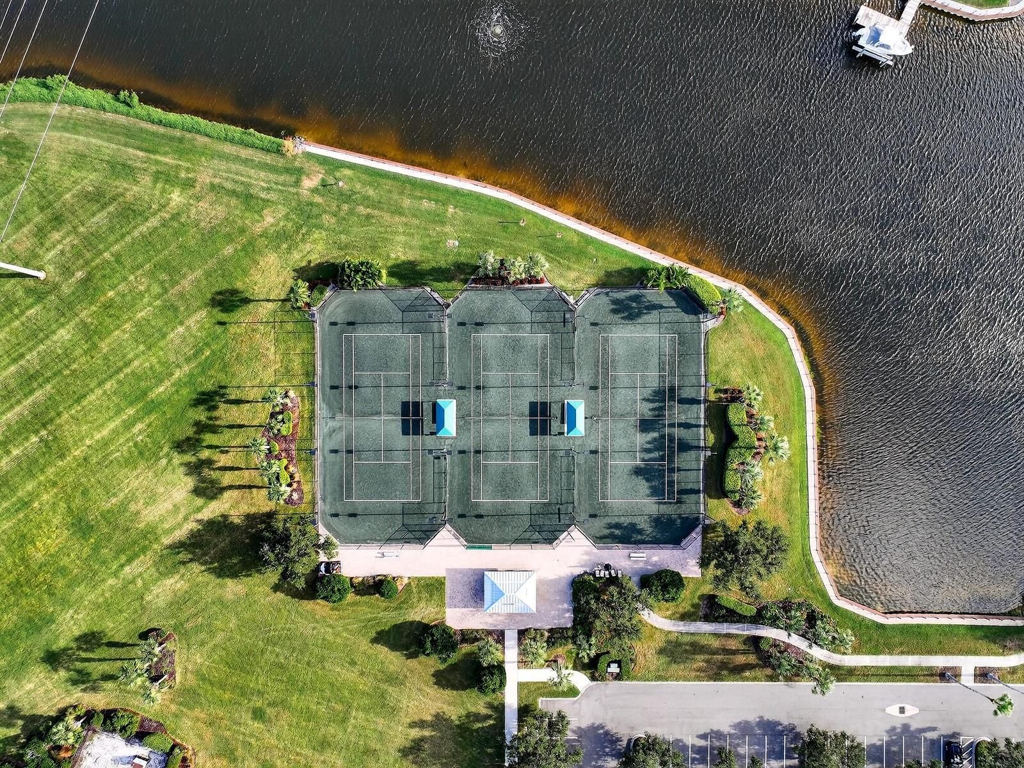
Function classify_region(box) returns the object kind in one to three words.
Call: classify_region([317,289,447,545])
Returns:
tennis court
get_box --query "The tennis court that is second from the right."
[446,289,575,545]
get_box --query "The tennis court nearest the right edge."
[575,289,703,545]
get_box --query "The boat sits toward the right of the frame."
[856,23,915,54]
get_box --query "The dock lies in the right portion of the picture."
[850,0,923,31]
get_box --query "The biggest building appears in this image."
[484,568,537,614]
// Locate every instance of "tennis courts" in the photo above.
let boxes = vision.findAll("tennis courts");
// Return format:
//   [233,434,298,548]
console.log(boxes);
[575,289,703,545]
[317,289,447,545]
[446,289,575,545]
